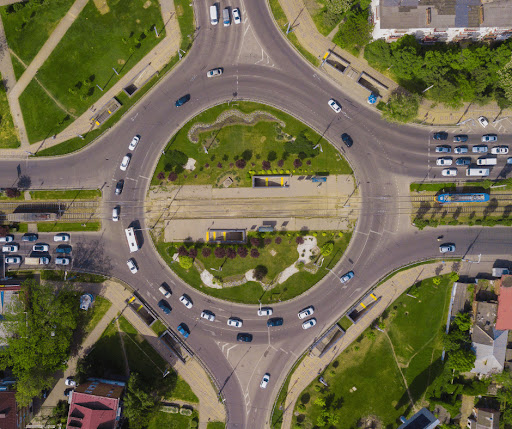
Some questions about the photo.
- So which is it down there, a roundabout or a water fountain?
roundabout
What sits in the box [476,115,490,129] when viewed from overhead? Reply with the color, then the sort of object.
white car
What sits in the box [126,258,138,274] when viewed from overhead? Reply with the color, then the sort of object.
white vehicle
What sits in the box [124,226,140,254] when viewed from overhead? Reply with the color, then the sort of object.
white vehicle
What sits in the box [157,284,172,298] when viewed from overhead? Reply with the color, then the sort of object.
white car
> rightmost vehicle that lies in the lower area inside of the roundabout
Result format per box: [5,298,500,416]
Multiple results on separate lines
[339,270,354,284]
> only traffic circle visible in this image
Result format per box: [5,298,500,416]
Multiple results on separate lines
[113,66,395,340]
